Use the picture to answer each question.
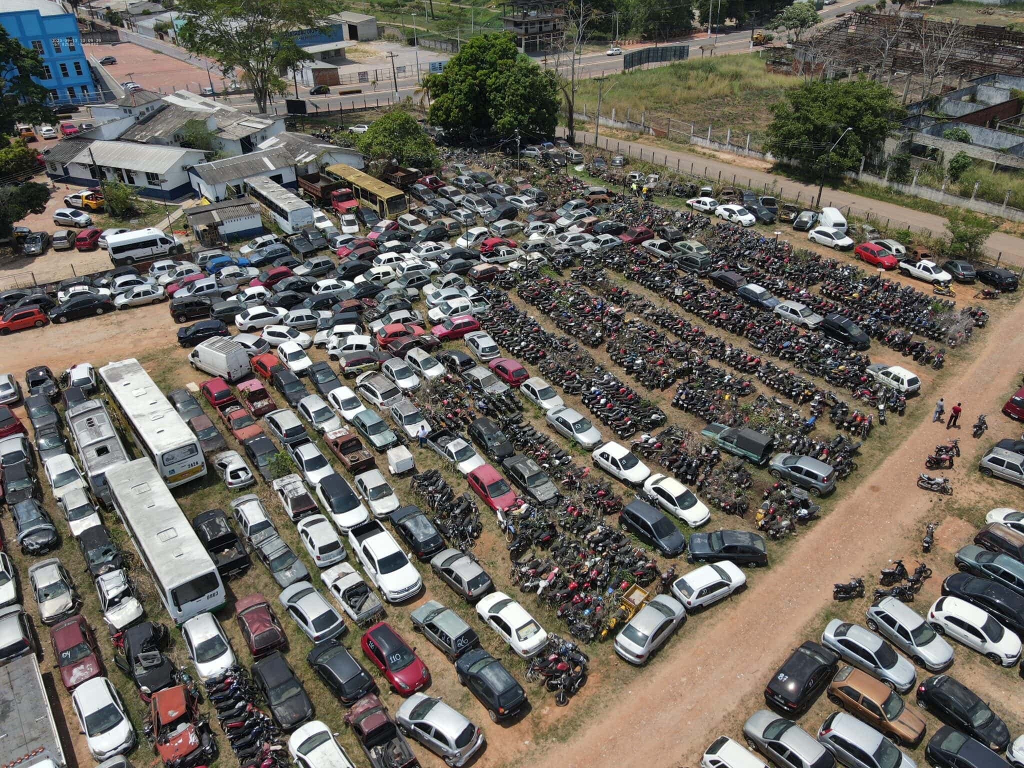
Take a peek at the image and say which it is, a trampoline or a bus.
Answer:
bus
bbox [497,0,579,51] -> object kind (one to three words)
building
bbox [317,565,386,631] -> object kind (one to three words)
truck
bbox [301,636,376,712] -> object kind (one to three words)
car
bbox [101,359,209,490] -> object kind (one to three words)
bus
